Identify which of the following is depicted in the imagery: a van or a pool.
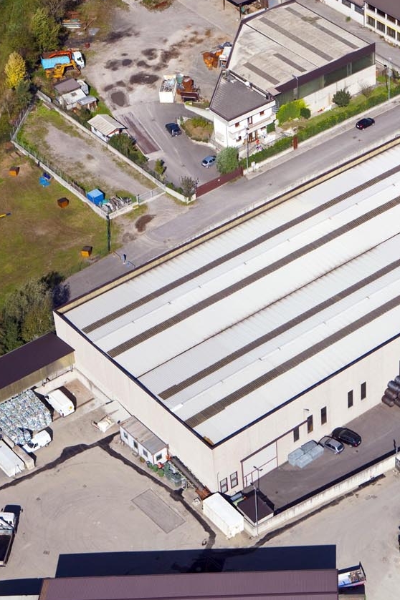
van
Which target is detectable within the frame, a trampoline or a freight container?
freight container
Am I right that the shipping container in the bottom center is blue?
No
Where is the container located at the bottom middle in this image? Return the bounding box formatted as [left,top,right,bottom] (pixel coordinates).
[198,488,244,537]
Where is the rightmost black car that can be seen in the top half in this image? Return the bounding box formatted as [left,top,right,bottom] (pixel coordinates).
[354,117,377,131]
